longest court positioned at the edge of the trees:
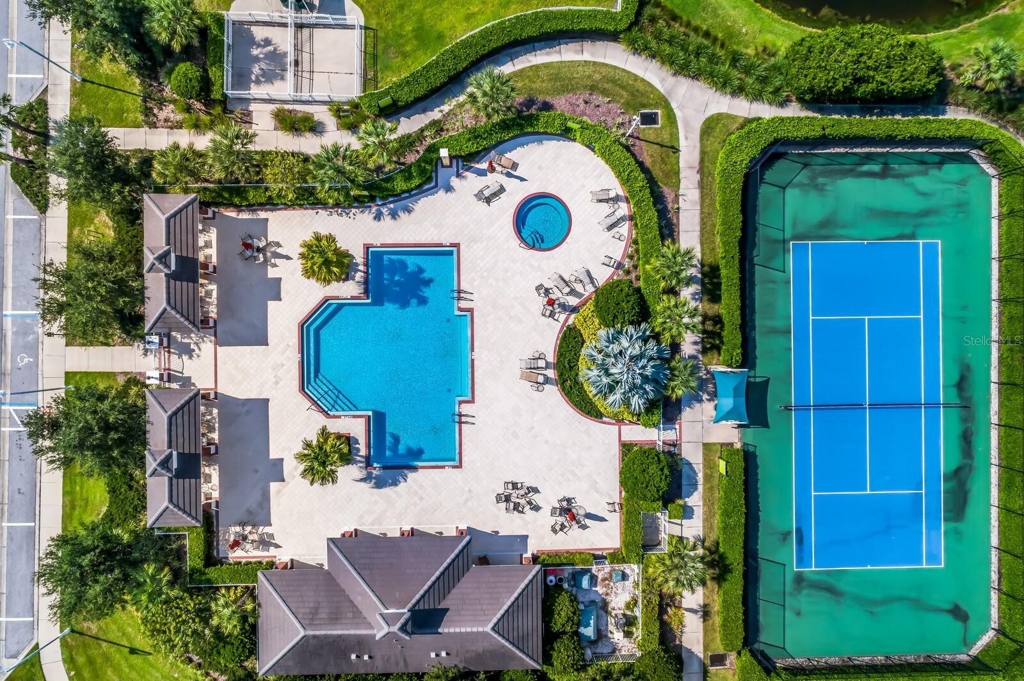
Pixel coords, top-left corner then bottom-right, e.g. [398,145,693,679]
[743,151,992,659]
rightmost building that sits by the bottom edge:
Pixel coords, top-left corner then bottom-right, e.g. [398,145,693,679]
[257,527,543,677]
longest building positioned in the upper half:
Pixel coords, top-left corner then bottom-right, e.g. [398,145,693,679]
[141,193,217,333]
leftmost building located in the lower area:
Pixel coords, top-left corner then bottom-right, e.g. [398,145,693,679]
[144,388,219,529]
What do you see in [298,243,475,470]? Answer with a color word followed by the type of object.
blue swimming pool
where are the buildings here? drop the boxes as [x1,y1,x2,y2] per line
[257,527,543,677]
[144,388,219,529]
[141,193,217,333]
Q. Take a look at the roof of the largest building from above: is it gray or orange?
gray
